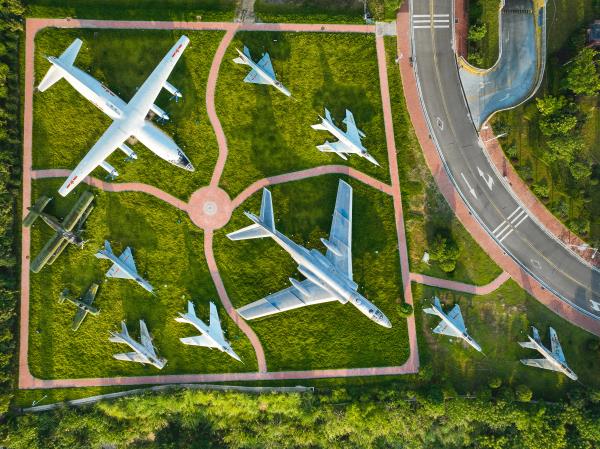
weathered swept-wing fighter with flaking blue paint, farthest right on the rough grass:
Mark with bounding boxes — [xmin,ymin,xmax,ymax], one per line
[517,325,579,383]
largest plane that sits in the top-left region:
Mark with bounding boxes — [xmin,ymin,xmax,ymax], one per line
[35,37,193,194]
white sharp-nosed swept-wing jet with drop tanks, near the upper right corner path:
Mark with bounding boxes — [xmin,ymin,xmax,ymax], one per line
[309,107,381,169]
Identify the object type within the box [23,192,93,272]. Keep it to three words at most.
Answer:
airplane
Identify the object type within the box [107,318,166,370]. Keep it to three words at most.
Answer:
airplane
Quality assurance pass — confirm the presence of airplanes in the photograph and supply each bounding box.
[35,37,193,194]
[23,192,93,272]
[422,296,485,354]
[309,107,381,169]
[93,240,161,294]
[517,325,579,383]
[233,46,295,101]
[58,283,100,331]
[227,179,391,327]
[175,301,250,361]
[107,318,166,370]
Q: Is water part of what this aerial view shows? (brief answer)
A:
No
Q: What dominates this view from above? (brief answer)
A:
grass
